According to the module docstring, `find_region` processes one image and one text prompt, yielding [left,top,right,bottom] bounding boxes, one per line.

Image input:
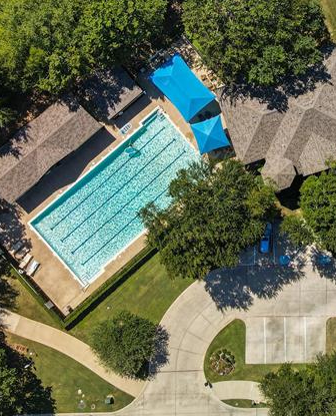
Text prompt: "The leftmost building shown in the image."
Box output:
[0,103,104,203]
